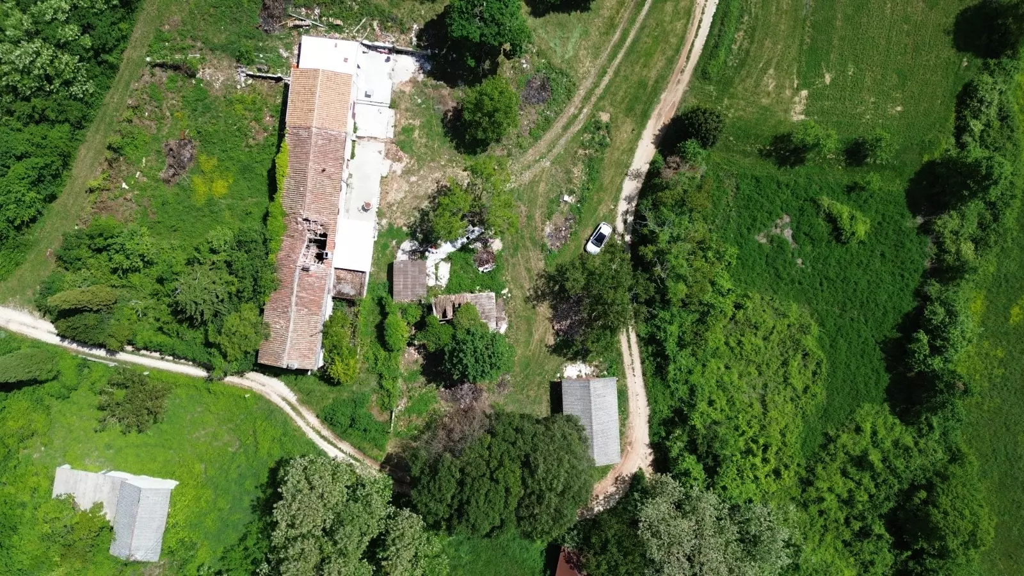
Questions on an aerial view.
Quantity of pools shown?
0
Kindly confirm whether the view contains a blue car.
No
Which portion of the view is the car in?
center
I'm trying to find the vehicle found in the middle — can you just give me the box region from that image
[587,222,611,254]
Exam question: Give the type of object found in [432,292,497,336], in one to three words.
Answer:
shed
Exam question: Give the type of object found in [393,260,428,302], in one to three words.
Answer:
shed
